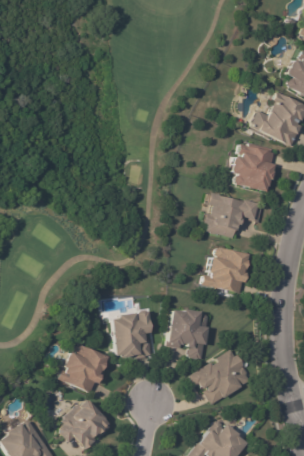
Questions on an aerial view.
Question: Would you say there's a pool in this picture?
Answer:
Yes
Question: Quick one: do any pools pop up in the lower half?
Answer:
Yes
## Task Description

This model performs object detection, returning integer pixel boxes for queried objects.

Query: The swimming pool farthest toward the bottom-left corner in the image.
[0,396,30,433]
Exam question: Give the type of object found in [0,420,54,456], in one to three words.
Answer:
house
